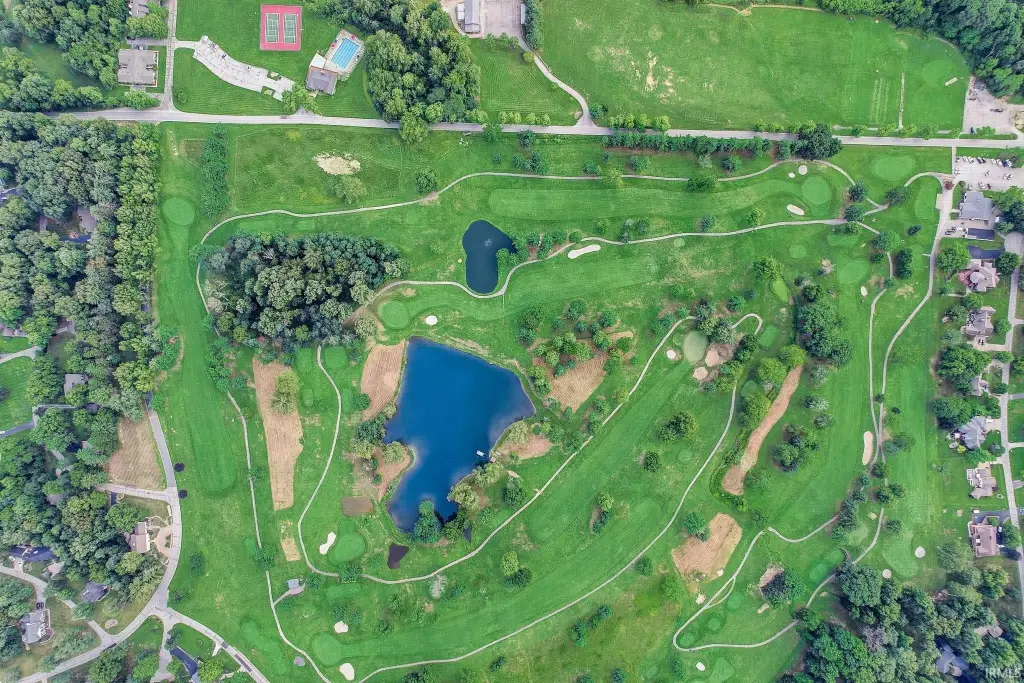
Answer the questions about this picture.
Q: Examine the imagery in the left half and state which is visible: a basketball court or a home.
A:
home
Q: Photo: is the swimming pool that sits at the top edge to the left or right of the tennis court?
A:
to the right of it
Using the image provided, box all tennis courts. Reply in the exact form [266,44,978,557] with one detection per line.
[258,2,303,51]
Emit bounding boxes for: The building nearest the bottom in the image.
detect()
[935,642,969,676]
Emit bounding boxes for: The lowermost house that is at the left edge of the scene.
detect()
[19,608,57,642]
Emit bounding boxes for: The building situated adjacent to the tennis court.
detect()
[304,52,338,96]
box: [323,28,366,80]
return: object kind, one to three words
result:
swimming pool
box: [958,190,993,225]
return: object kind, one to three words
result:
building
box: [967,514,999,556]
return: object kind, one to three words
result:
house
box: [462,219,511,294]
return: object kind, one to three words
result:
pond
